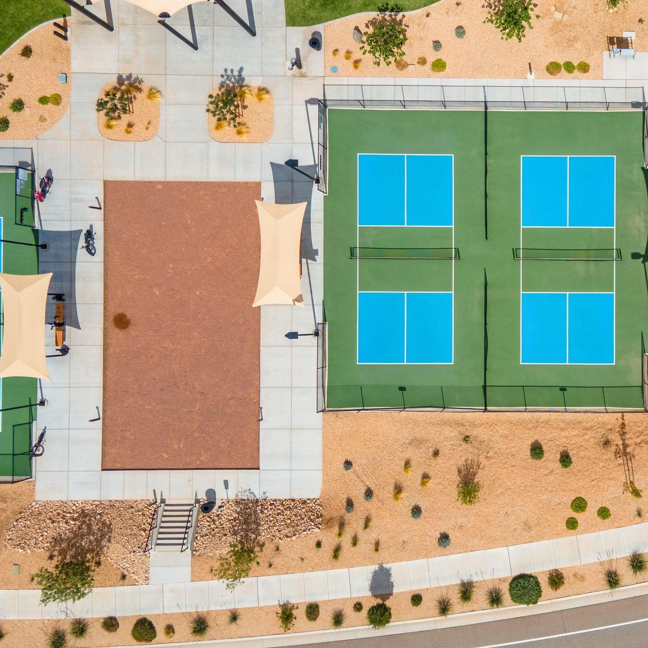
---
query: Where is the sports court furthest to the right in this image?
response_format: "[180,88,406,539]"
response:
[485,109,648,410]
